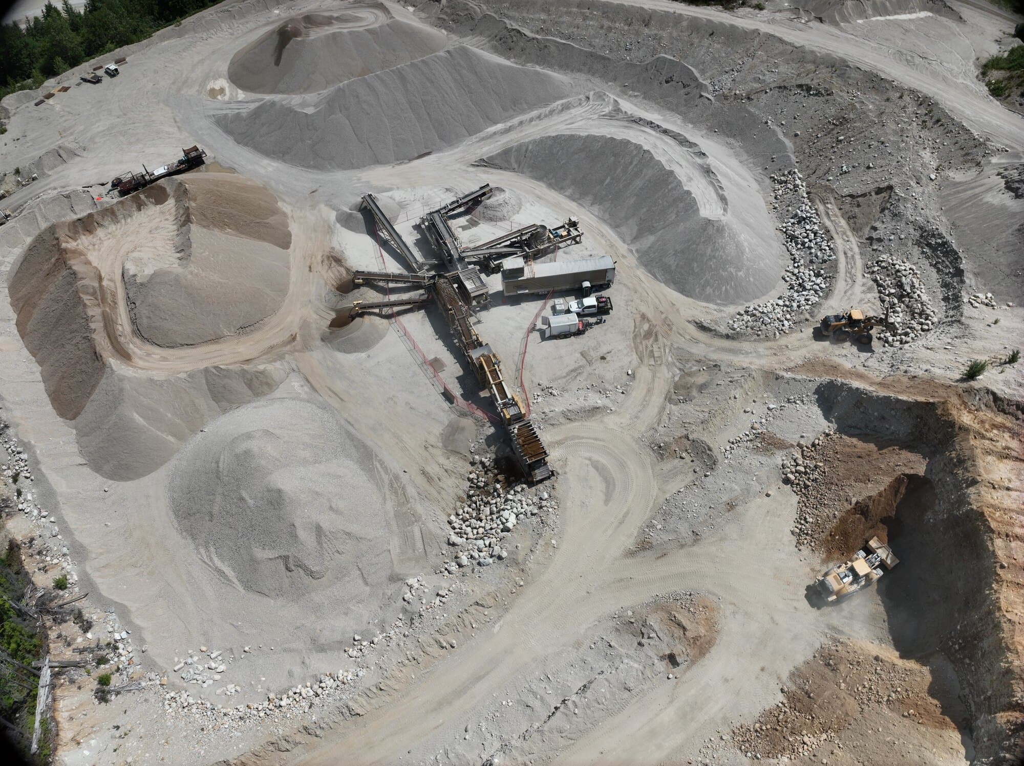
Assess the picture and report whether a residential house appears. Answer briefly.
Yes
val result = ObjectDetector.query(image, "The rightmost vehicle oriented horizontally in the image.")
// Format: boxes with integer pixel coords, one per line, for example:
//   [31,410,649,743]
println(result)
[819,311,908,349]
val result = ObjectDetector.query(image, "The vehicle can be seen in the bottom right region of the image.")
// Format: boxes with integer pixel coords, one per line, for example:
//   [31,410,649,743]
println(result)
[823,538,906,608]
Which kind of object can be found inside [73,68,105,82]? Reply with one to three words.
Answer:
vehicle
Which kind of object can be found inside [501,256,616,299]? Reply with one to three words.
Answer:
trailer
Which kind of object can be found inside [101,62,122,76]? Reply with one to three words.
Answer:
vehicle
